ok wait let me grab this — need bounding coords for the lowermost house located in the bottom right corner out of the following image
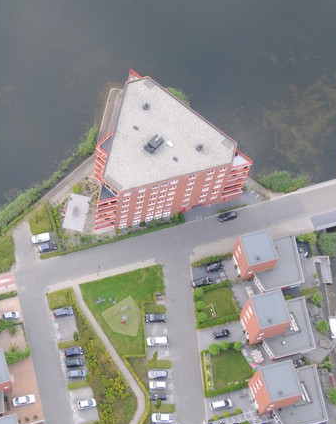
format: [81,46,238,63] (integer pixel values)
[251,359,329,424]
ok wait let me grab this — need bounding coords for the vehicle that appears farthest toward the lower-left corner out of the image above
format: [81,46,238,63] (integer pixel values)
[10,394,38,407]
